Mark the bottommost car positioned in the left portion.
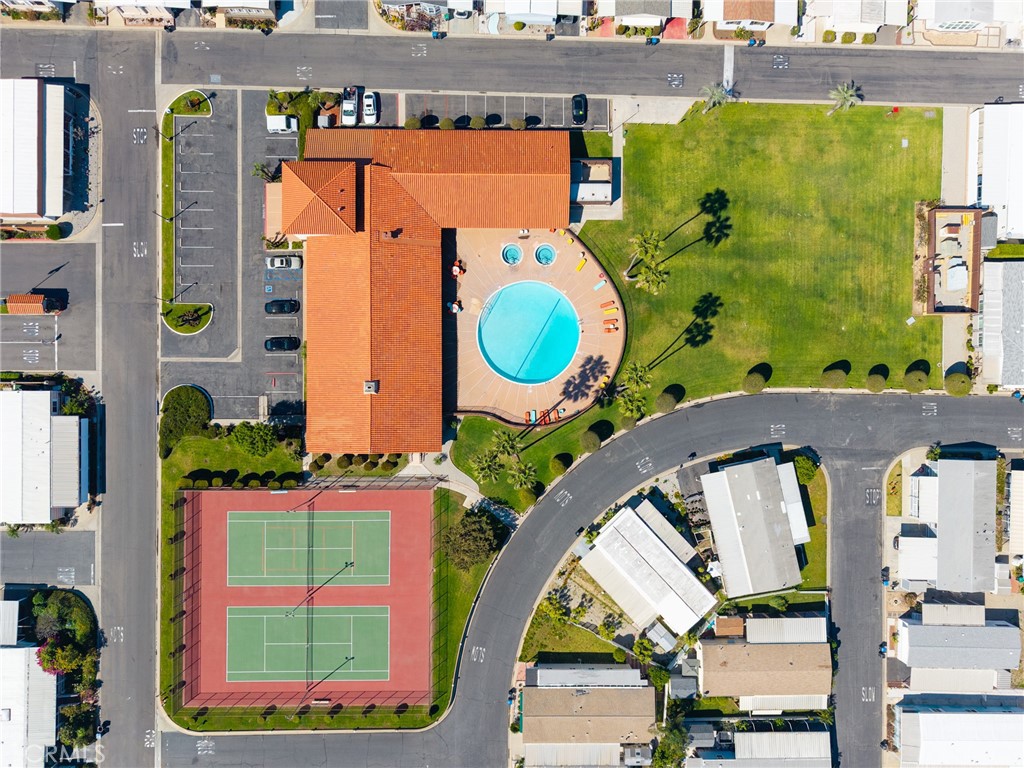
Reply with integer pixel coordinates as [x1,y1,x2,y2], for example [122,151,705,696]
[264,336,298,351]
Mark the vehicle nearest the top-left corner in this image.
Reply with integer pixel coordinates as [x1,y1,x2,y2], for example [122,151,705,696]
[262,113,298,131]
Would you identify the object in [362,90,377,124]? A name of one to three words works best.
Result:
car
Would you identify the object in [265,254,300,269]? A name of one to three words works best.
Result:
car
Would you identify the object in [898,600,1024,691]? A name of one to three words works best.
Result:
house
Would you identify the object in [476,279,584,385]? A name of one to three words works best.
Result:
swimming pool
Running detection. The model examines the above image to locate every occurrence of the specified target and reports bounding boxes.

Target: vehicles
[362,90,377,124]
[264,336,298,351]
[892,537,898,551]
[262,113,298,131]
[265,254,300,269]
[453,9,468,24]
[340,84,357,125]
[573,92,588,125]
[264,298,298,314]
[561,15,574,28]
